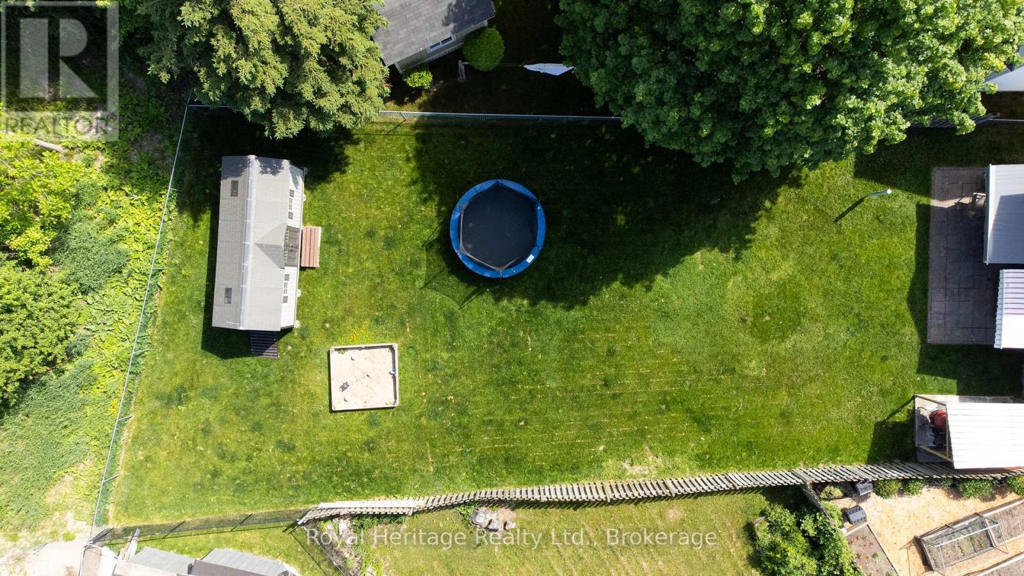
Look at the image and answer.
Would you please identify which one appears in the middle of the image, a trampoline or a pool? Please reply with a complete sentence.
It is a trampoline that can be seen in the middle of the image.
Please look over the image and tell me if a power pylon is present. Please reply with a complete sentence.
No, I find no power pylon anywhere in the image.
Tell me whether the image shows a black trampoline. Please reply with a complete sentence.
Yes, a black trampoline is visible in the scene.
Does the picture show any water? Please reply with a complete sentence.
No, there's no water in this view.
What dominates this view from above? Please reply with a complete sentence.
For the most part, this view shows grass.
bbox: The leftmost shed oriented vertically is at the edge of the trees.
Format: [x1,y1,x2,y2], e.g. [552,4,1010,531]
[212,154,303,332]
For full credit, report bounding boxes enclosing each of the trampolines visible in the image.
[451,179,546,277]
